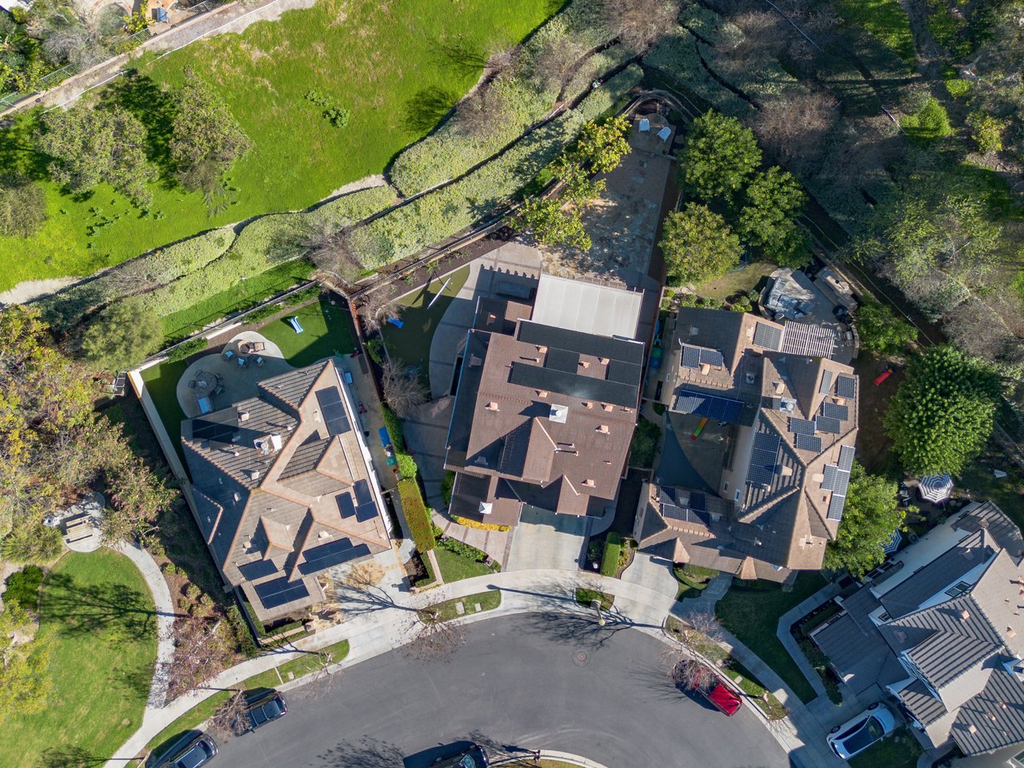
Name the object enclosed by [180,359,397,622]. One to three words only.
house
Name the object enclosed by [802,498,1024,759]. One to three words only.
house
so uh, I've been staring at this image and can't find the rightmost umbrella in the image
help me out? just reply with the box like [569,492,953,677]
[911,468,948,502]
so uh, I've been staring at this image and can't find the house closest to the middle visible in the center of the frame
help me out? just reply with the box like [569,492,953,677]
[443,296,646,526]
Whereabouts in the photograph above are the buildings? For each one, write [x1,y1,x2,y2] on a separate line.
[443,296,646,526]
[802,498,1024,759]
[637,307,861,585]
[180,359,397,622]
